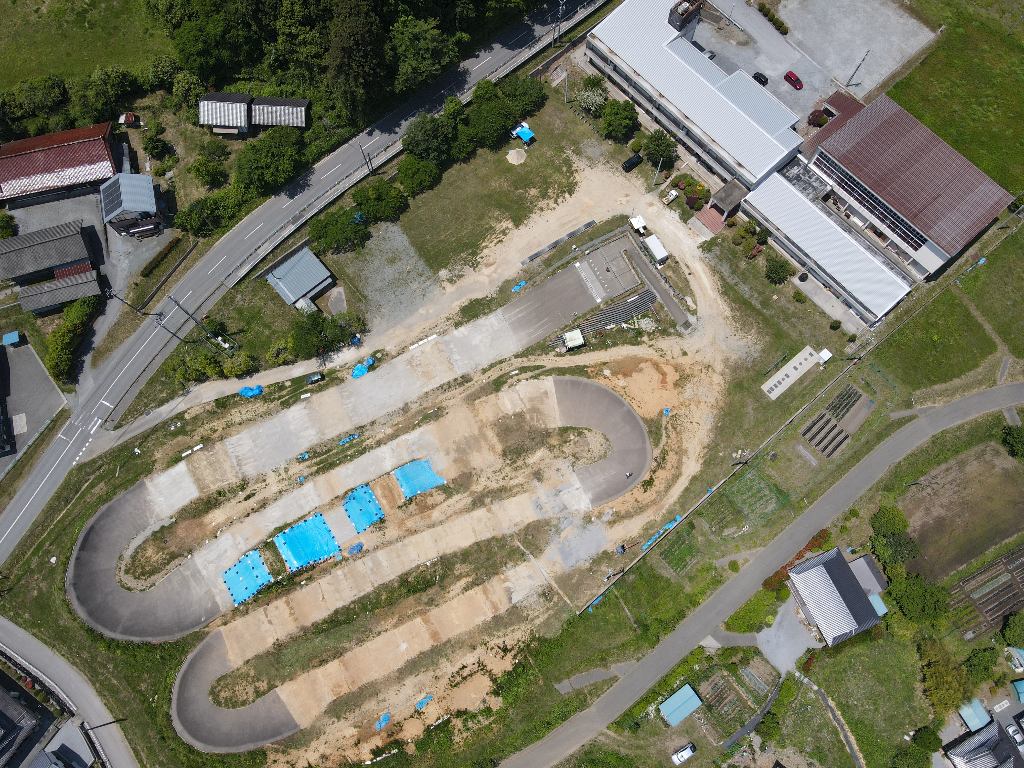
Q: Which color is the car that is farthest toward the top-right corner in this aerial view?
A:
red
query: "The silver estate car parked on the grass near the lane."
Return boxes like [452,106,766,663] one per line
[670,741,699,768]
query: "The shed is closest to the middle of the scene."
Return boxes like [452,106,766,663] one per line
[563,329,584,350]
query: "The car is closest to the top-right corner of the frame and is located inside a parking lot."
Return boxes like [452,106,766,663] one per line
[784,70,804,90]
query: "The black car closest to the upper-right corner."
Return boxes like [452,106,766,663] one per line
[752,71,769,86]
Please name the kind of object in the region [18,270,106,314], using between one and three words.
barn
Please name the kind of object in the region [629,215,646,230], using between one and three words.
gazebo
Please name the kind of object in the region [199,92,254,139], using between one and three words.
shed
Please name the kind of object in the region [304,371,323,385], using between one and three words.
car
